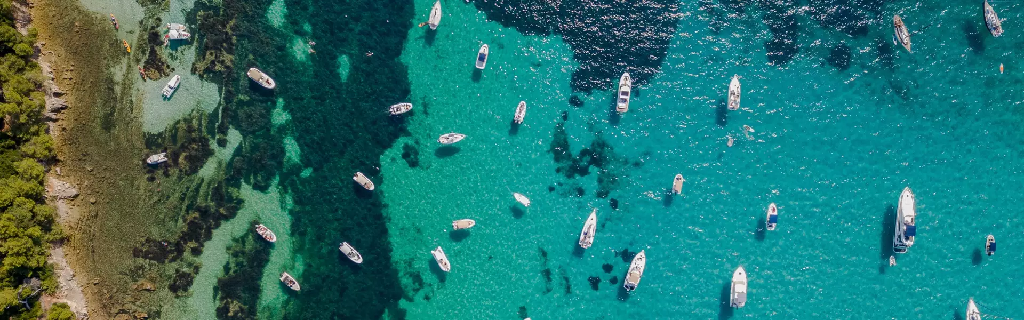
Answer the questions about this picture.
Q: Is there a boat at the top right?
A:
Yes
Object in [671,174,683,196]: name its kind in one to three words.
boat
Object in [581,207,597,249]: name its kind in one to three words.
boat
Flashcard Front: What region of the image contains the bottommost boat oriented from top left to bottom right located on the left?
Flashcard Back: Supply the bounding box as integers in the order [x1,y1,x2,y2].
[279,274,300,290]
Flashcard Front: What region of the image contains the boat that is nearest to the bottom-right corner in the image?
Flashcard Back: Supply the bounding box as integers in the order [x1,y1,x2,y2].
[966,299,1005,320]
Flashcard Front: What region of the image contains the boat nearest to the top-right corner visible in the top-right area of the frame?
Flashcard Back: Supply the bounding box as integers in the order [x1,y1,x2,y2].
[982,0,1015,38]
